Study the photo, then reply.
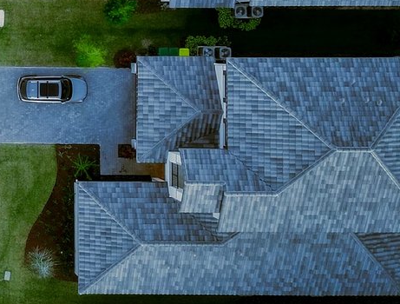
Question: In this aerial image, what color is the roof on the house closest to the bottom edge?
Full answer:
The roof over the house closest to the bottom edge appears blue.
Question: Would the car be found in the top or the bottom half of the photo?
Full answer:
You can find the car in the top half.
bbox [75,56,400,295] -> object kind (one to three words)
house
